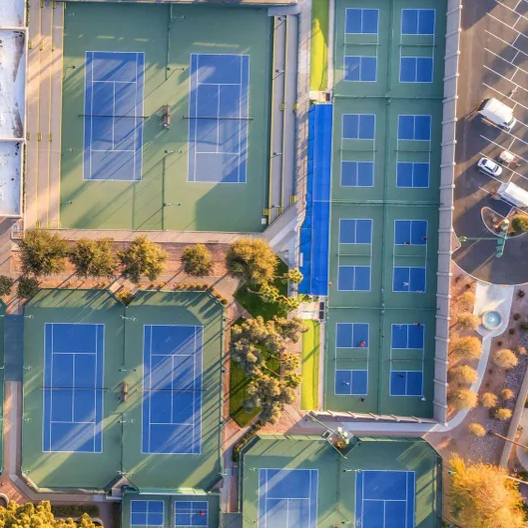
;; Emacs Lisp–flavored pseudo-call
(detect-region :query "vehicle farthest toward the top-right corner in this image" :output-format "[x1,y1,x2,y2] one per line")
[474,96,510,124]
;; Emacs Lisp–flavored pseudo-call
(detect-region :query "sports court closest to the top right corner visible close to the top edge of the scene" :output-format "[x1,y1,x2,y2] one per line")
[387,0,447,98]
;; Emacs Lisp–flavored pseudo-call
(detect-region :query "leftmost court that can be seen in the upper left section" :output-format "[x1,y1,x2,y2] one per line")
[60,2,169,231]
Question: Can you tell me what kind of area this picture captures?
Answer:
sports ground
